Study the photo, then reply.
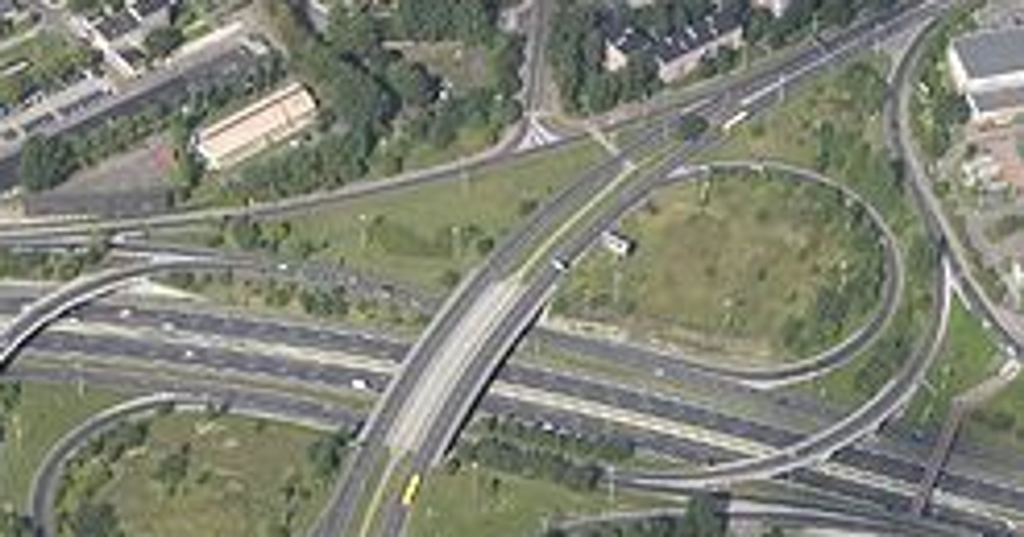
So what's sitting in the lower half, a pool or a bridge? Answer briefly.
bridge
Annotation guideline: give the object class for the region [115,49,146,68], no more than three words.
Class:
building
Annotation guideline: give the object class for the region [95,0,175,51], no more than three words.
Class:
house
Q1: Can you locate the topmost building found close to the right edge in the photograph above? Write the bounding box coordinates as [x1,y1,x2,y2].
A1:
[944,24,1024,99]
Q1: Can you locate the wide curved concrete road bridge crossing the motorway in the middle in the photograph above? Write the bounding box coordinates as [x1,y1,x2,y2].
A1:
[359,278,547,451]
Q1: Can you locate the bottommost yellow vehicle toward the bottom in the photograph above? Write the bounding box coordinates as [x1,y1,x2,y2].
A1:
[402,470,422,505]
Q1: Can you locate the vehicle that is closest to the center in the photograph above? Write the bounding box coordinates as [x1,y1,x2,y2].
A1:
[553,256,566,269]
